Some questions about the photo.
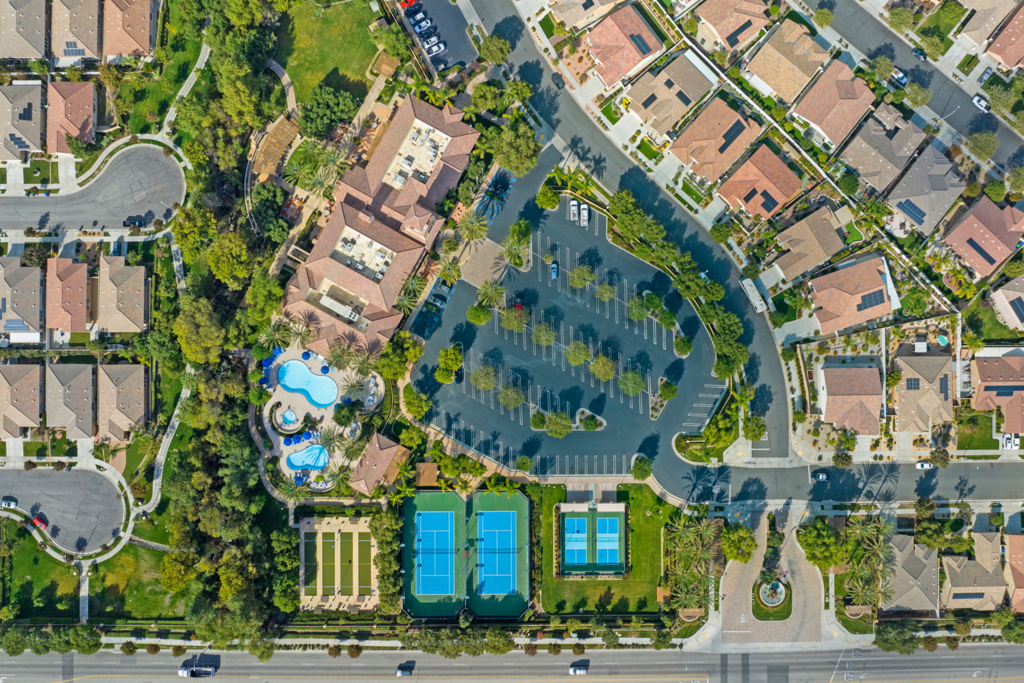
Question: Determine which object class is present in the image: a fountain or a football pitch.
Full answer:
The one in the frame is a fountain.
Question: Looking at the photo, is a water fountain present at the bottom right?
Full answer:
Yes, a water fountain shows up at the bottom right.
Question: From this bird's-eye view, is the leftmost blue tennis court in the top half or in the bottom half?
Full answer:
The leftmost blue tennis court is in the bottom half of the image.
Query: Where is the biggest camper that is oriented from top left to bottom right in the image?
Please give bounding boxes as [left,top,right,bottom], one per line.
[738,277,770,314]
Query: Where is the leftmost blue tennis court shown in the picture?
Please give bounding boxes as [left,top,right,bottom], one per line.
[403,494,466,619]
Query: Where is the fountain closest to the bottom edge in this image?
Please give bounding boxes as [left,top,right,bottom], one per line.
[759,581,786,607]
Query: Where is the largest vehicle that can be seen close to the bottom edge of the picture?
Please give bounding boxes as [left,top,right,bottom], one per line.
[180,665,218,679]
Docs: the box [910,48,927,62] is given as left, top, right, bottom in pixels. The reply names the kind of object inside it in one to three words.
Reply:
car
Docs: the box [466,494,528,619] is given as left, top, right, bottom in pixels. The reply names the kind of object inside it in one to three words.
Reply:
tennis court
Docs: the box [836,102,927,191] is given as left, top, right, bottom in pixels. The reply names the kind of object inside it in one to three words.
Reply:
house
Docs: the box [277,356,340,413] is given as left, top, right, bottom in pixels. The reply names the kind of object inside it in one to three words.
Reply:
swimming pool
